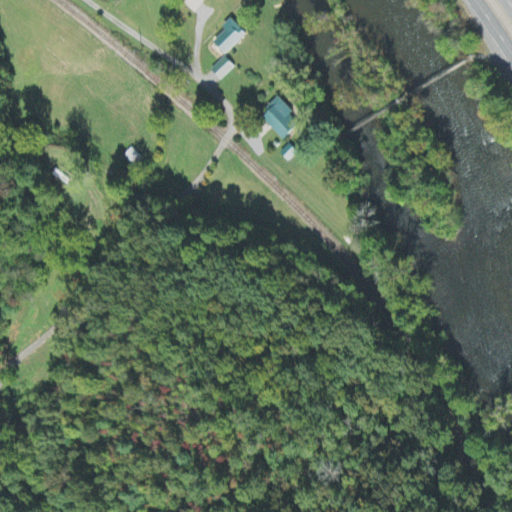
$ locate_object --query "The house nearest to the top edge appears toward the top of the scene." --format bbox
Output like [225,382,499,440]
[214,20,245,52]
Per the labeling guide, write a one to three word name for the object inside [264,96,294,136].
house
